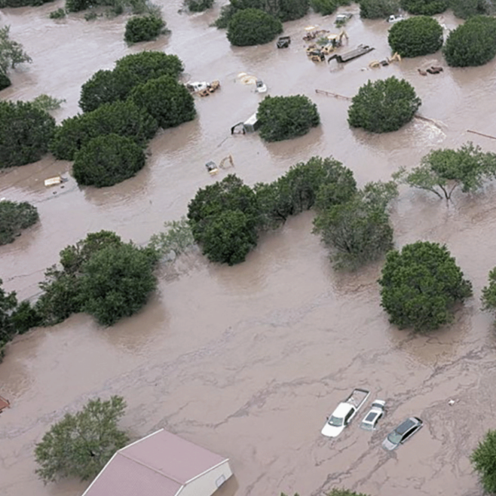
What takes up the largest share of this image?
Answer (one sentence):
For the most part, this view shows water.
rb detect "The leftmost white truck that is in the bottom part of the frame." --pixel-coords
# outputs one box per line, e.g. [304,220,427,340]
[324,389,368,435]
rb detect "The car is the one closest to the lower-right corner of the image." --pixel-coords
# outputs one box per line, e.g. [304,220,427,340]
[384,414,423,450]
